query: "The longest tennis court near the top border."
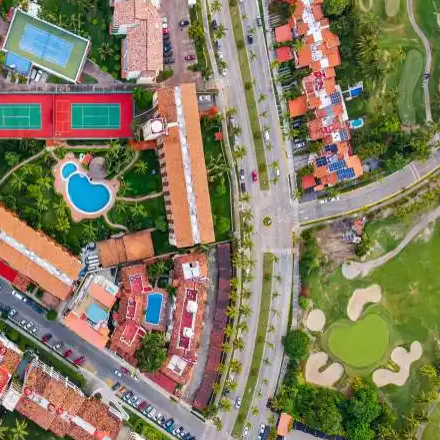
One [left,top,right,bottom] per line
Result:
[2,8,90,85]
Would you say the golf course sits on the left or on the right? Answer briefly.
right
